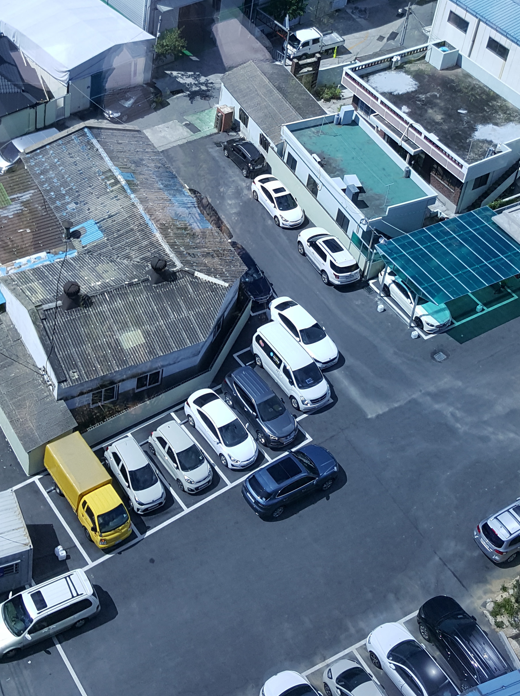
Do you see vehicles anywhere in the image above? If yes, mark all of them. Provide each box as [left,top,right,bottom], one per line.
[470,500,520,565]
[105,80,172,120]
[240,451,345,522]
[364,623,461,696]
[0,572,107,666]
[0,118,61,172]
[142,422,209,497]
[46,419,127,538]
[292,229,365,292]
[254,662,320,696]
[223,232,275,303]
[216,139,269,179]
[216,366,298,452]
[248,173,305,232]
[99,438,162,516]
[269,298,338,371]
[320,652,392,696]
[282,22,348,57]
[243,315,326,410]
[177,393,254,477]
[414,592,520,688]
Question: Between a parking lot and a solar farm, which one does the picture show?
parking lot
